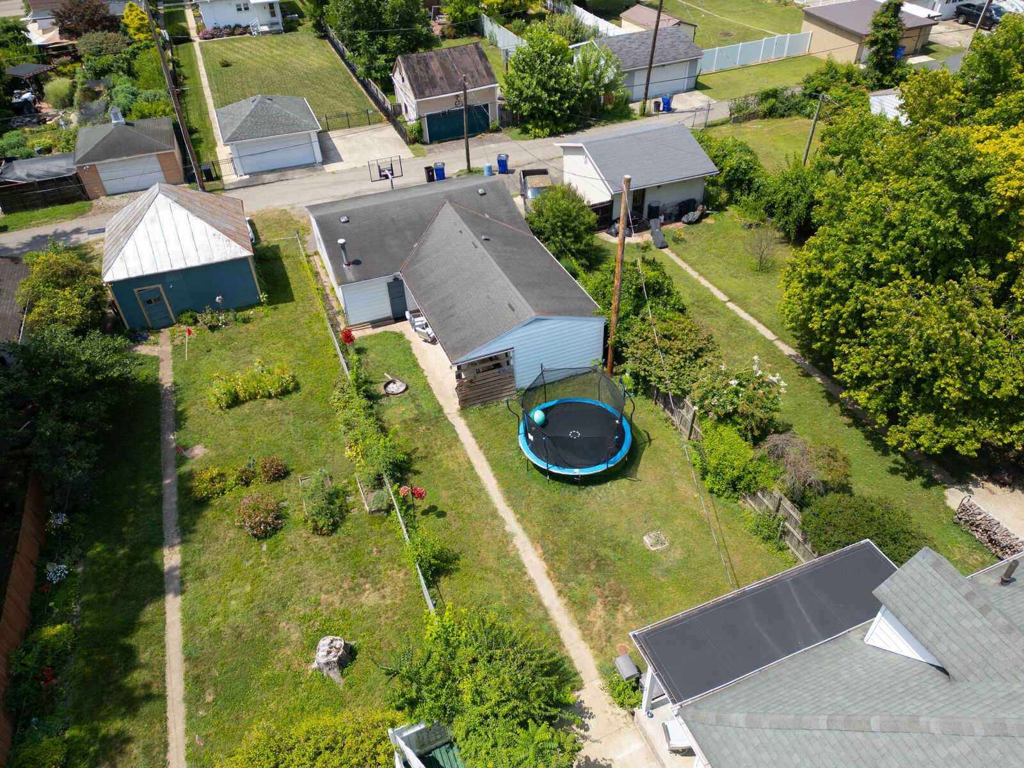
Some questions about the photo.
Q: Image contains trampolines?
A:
Yes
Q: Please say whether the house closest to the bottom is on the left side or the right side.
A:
right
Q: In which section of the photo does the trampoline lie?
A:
center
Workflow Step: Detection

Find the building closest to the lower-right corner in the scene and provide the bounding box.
[629,538,1024,768]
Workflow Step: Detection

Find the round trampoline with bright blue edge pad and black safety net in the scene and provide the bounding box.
[508,360,647,494]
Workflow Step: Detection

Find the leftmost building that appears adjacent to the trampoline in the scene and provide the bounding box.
[305,176,618,410]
